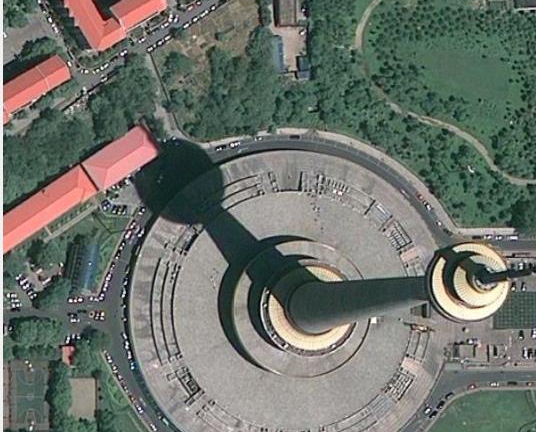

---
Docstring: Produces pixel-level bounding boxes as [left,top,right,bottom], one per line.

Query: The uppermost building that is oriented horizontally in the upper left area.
[104,0,168,31]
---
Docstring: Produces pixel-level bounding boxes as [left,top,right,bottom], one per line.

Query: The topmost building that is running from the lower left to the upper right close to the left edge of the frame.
[0,54,71,118]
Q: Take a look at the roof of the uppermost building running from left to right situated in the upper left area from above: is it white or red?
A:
red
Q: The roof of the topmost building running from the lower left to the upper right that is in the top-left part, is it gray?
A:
No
